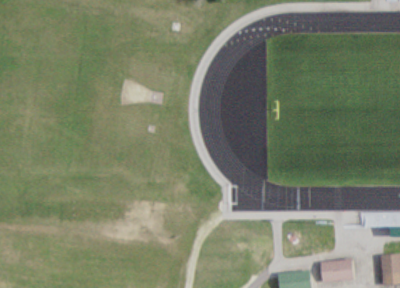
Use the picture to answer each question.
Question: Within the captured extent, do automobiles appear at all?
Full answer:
No, no automobile is visible in the scene.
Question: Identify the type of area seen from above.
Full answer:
What you see here is a sports ground.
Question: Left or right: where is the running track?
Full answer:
You can find the running track on the right side of the picture.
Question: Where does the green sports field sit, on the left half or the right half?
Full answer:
The green sports field is on the right side of the image.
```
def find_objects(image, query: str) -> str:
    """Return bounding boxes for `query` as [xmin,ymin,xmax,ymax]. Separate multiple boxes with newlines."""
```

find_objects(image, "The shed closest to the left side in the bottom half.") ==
[278,270,310,288]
